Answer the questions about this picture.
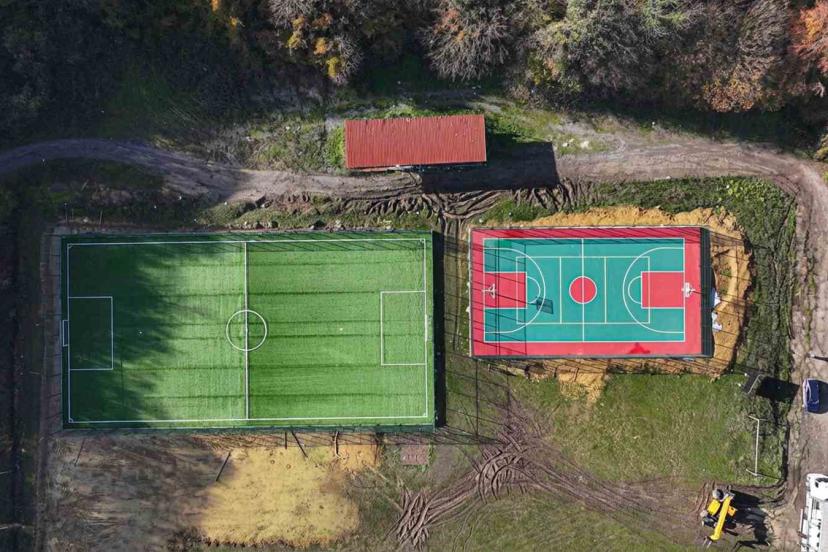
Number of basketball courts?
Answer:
1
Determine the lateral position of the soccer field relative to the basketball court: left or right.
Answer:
left of it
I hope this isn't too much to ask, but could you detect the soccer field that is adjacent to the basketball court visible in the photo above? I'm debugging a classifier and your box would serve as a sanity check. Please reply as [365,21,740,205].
[61,231,433,428]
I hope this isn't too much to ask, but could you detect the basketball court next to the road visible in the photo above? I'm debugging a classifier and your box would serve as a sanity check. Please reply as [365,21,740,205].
[471,227,703,357]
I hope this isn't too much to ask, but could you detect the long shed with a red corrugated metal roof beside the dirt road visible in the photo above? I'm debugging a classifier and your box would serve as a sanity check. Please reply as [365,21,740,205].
[344,114,488,171]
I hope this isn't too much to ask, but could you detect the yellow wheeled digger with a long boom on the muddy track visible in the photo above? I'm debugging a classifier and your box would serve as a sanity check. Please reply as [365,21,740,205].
[693,486,737,545]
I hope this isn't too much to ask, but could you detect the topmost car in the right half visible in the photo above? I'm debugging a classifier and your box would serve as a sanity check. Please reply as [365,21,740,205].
[803,381,822,411]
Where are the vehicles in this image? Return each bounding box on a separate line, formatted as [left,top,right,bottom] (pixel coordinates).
[803,381,822,411]
[802,474,828,552]
[693,486,737,545]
